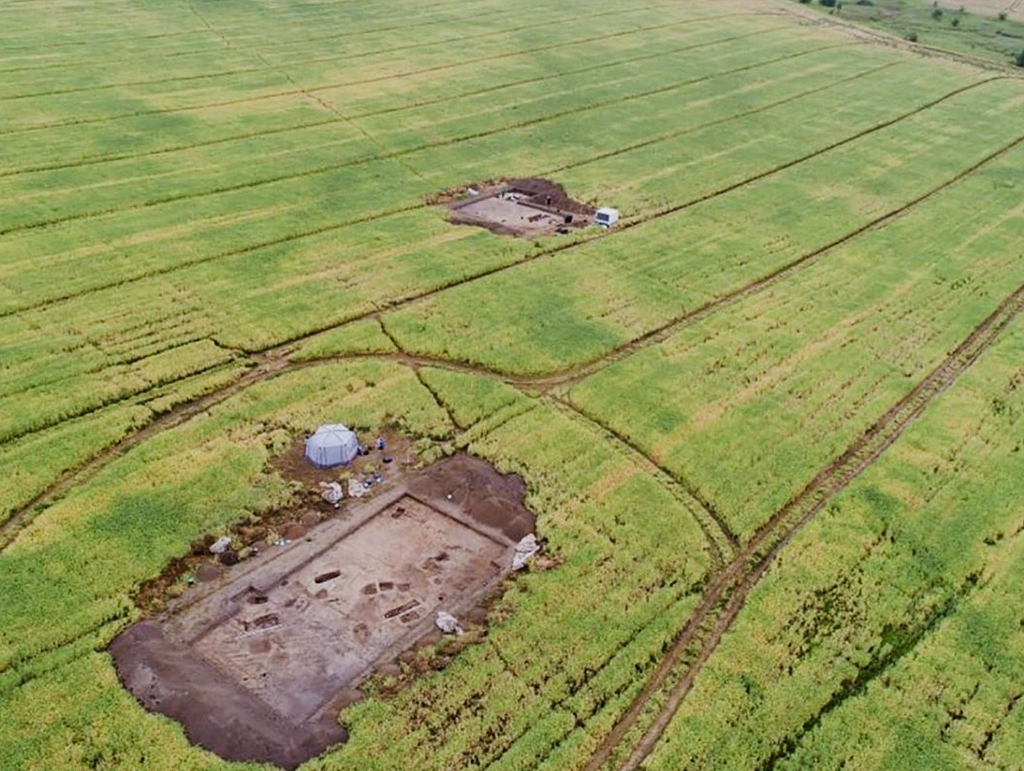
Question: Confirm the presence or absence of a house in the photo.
No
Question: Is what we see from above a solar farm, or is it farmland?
farmland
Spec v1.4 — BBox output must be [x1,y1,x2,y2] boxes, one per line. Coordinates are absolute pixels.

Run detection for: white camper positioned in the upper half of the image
[599,205,624,224]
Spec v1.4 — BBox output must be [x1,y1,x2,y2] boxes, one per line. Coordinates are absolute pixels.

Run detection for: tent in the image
[303,425,360,471]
